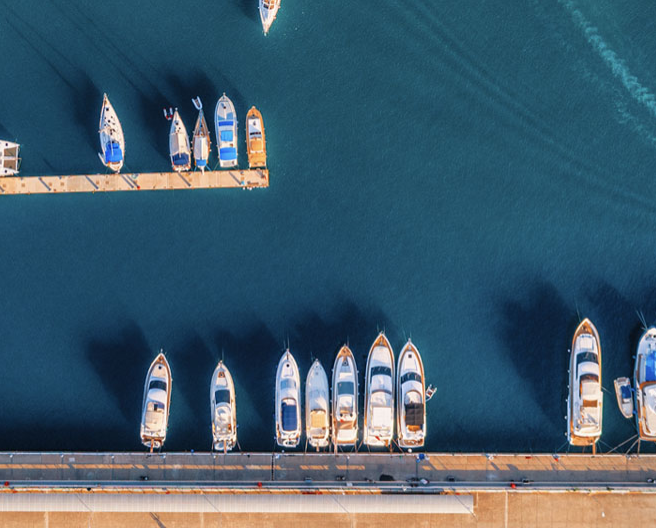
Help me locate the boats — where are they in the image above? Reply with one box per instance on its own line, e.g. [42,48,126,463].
[611,375,633,420]
[298,345,338,459]
[139,338,175,459]
[268,333,307,456]
[635,311,656,458]
[326,333,365,459]
[191,94,203,112]
[98,83,133,177]
[213,85,246,171]
[163,106,172,122]
[187,95,215,176]
[391,328,434,457]
[565,306,608,460]
[241,93,275,172]
[0,140,20,175]
[359,314,398,460]
[425,383,439,399]
[256,0,282,37]
[167,98,195,176]
[203,350,246,459]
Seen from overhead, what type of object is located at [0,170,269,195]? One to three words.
pier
